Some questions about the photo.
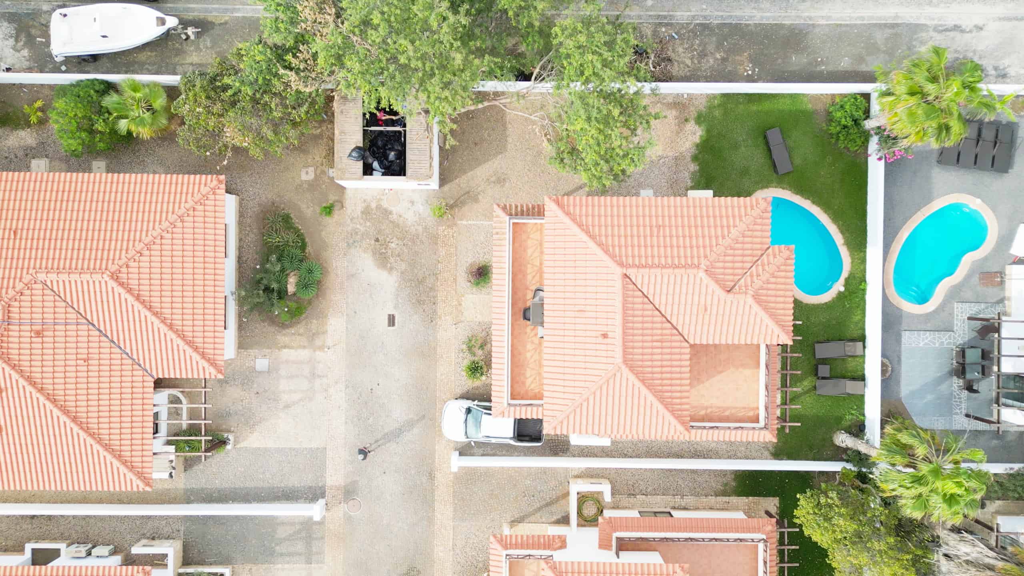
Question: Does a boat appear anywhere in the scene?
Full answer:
Yes, there is a boat in the image.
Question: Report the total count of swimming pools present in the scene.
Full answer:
I count 2 swimming pools.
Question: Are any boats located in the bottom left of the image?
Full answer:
No, the scene shows no boat in the bottom left of the image.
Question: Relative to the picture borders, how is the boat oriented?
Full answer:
From this overhead view, the boat appears to run from left to right.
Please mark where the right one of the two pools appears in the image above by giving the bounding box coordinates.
[884,193,998,314]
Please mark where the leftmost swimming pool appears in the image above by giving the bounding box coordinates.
[763,189,853,304]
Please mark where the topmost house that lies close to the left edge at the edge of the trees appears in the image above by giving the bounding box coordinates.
[0,172,241,493]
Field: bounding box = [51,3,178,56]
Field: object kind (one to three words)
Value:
boat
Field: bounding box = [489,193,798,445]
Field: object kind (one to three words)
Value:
house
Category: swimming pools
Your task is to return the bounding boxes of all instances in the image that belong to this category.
[884,193,998,314]
[763,189,853,304]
